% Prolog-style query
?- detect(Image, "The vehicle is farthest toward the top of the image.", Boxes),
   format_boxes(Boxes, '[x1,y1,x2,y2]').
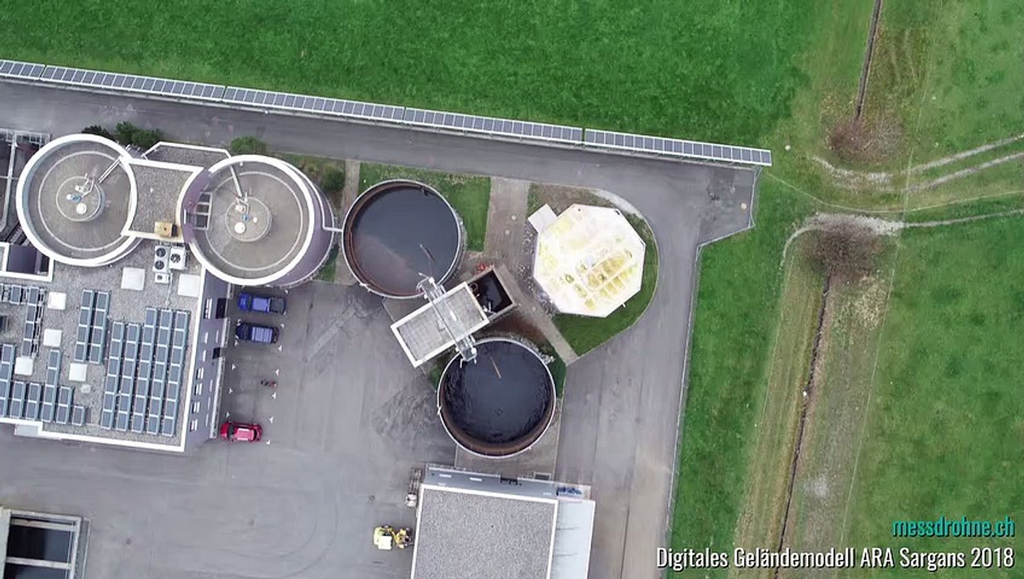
[236,291,288,314]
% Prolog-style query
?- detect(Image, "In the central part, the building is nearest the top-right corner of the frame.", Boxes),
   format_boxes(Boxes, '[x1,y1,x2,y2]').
[527,203,646,317]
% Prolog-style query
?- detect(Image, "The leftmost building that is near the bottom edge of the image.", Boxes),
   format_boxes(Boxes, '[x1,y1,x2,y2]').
[409,456,558,579]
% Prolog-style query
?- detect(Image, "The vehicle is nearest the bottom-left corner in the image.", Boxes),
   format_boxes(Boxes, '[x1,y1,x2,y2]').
[220,422,264,443]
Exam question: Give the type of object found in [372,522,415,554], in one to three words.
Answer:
work vehicle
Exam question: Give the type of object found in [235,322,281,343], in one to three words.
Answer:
car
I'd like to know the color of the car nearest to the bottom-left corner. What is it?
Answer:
red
